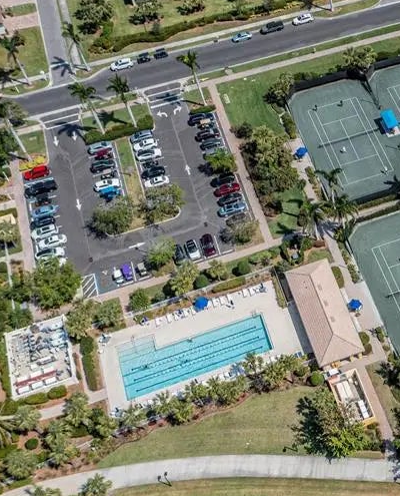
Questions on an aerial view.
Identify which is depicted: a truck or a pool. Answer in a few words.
pool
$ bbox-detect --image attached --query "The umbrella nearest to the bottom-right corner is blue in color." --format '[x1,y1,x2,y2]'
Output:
[348,299,363,313]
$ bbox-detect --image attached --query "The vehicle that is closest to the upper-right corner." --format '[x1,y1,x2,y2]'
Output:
[293,12,314,26]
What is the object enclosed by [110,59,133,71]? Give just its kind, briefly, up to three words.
vehicle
